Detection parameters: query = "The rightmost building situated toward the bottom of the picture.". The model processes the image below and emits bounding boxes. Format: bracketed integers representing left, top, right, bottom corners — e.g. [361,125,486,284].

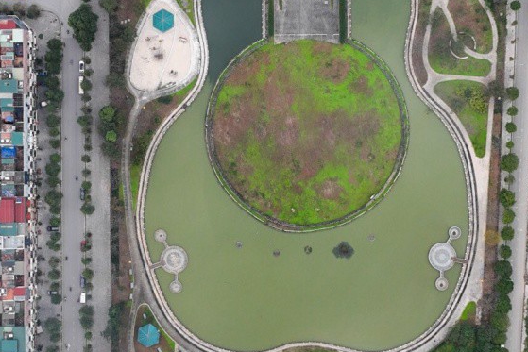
[139,325,158,346]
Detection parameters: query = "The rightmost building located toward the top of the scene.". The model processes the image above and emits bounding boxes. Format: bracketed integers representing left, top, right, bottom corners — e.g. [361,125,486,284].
[153,10,172,33]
